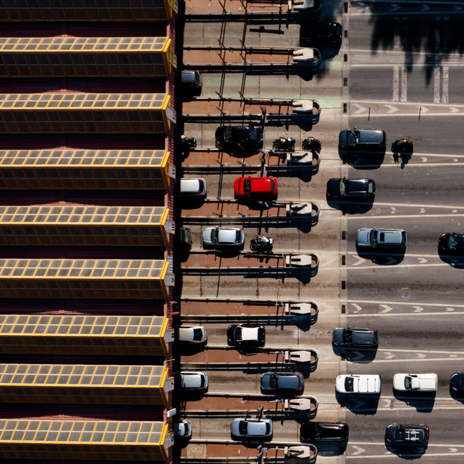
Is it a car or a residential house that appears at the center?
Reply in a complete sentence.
There is a car at the center.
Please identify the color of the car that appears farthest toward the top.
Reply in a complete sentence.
The car that appears farthest toward the top is black.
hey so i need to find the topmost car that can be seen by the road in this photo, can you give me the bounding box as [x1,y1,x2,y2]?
[300,21,342,46]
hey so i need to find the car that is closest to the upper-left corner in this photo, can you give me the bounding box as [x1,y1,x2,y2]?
[174,70,202,92]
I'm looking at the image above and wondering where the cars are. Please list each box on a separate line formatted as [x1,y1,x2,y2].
[261,371,304,392]
[300,21,342,46]
[235,176,278,198]
[449,371,464,394]
[301,420,348,443]
[438,231,464,253]
[326,176,376,198]
[174,227,192,247]
[173,323,207,345]
[227,325,265,345]
[339,126,386,149]
[173,419,191,438]
[333,326,378,349]
[173,370,208,391]
[216,126,263,149]
[203,225,245,247]
[174,70,202,92]
[231,417,272,439]
[174,177,207,196]
[357,227,406,249]
[385,423,428,445]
